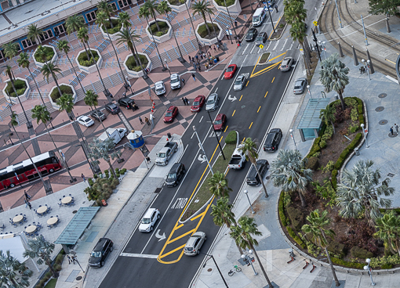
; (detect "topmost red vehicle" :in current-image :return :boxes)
[223,65,239,80]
